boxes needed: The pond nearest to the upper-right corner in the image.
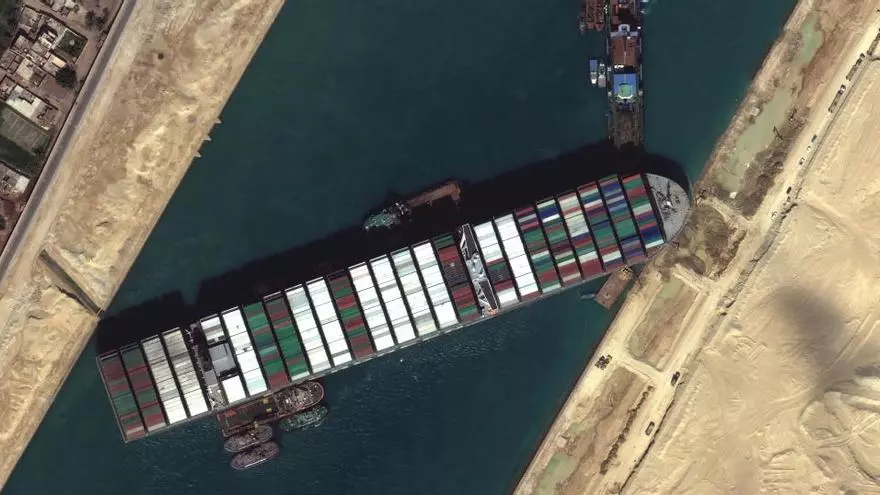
[716,14,821,193]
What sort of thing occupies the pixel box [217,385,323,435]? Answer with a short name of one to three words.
vessel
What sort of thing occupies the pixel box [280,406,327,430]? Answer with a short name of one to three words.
boat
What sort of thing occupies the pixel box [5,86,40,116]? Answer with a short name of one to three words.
house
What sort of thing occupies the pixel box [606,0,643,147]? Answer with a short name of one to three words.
ship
